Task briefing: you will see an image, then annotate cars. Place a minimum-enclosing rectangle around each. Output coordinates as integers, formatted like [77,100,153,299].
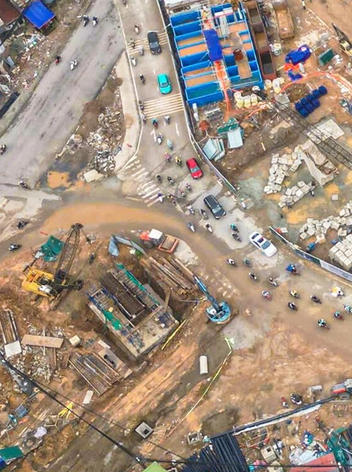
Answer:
[203,194,223,219]
[157,72,170,92]
[250,232,274,255]
[148,32,161,52]
[187,157,202,179]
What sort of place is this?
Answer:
industrial area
